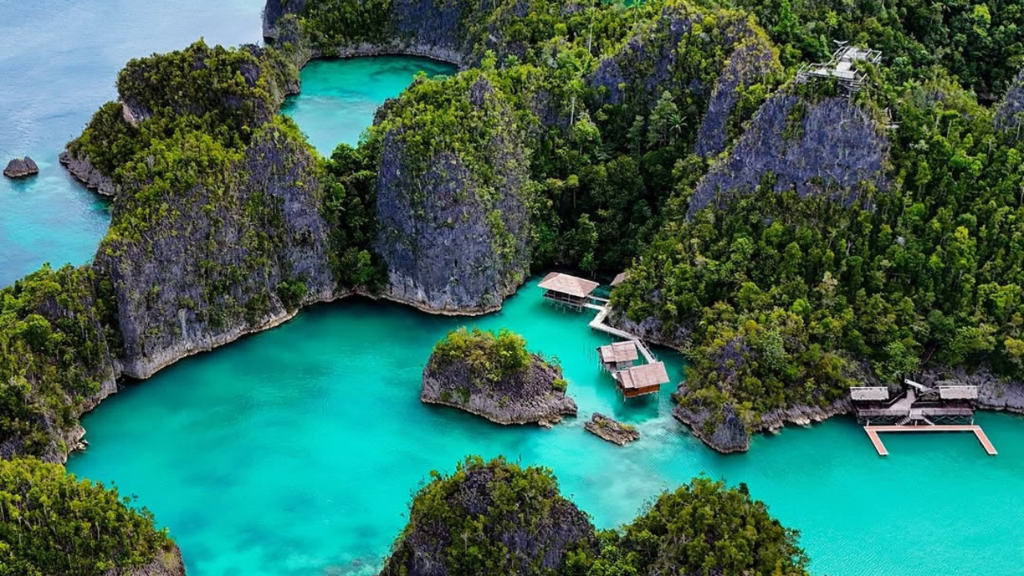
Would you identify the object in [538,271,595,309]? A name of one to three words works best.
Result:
building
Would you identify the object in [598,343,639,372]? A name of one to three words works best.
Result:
shed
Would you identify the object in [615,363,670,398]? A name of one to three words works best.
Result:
shed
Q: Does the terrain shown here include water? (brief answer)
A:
Yes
